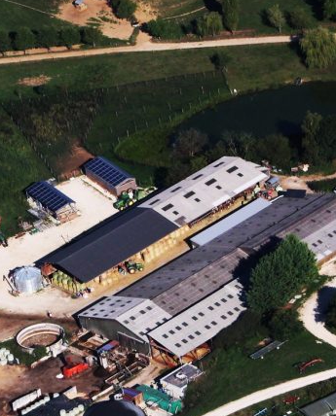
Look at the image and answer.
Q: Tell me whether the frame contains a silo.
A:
Yes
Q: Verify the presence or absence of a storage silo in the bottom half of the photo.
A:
Yes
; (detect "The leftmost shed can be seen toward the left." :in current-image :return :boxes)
[26,180,77,223]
